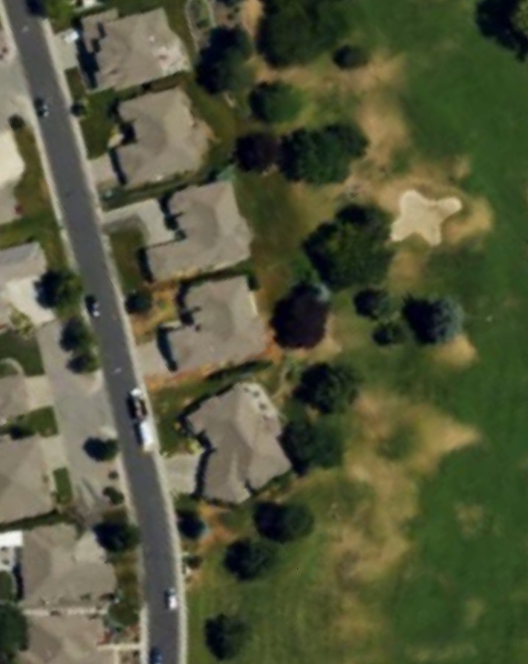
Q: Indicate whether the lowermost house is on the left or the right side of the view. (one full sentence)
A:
You can find the lowermost house on the left side of the picture.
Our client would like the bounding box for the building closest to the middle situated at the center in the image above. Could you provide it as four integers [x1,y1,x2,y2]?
[159,277,265,371]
